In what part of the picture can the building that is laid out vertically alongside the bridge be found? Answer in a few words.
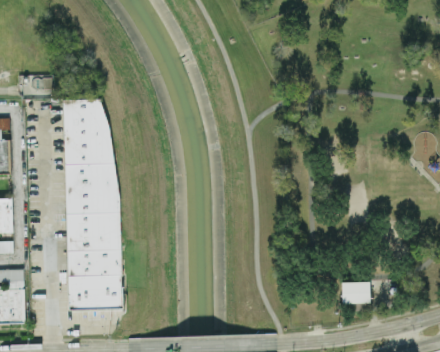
left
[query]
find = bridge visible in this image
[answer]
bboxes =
[130,334,278,352]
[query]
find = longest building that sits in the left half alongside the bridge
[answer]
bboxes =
[63,100,124,310]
